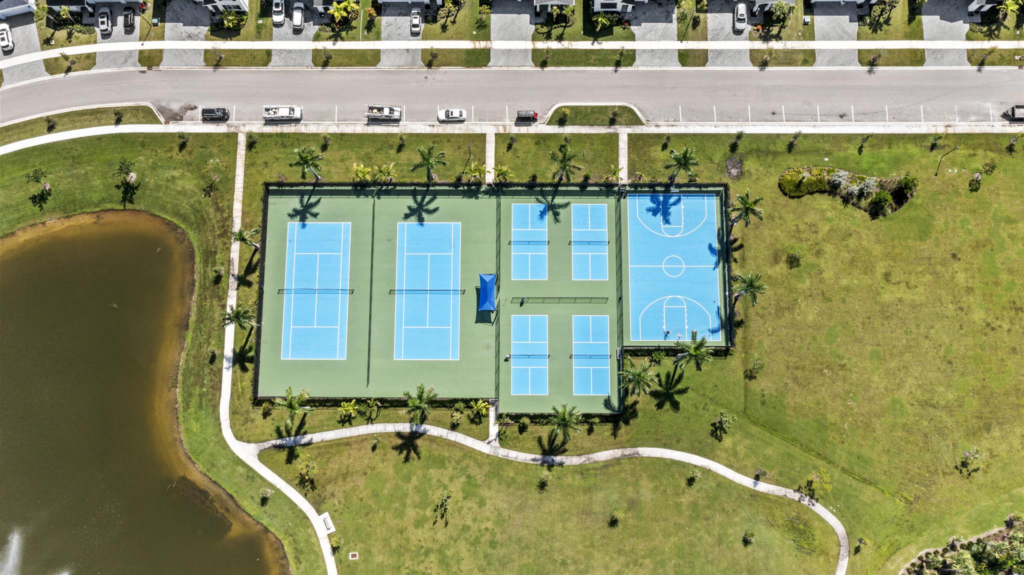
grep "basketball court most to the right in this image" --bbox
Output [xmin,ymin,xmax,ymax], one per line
[627,194,721,341]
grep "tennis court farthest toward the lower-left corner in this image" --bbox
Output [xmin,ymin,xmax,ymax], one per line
[281,222,351,360]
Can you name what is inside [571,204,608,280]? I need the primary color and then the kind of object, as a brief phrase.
blue sports court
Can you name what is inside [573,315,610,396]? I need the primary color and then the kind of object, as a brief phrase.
blue sports court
